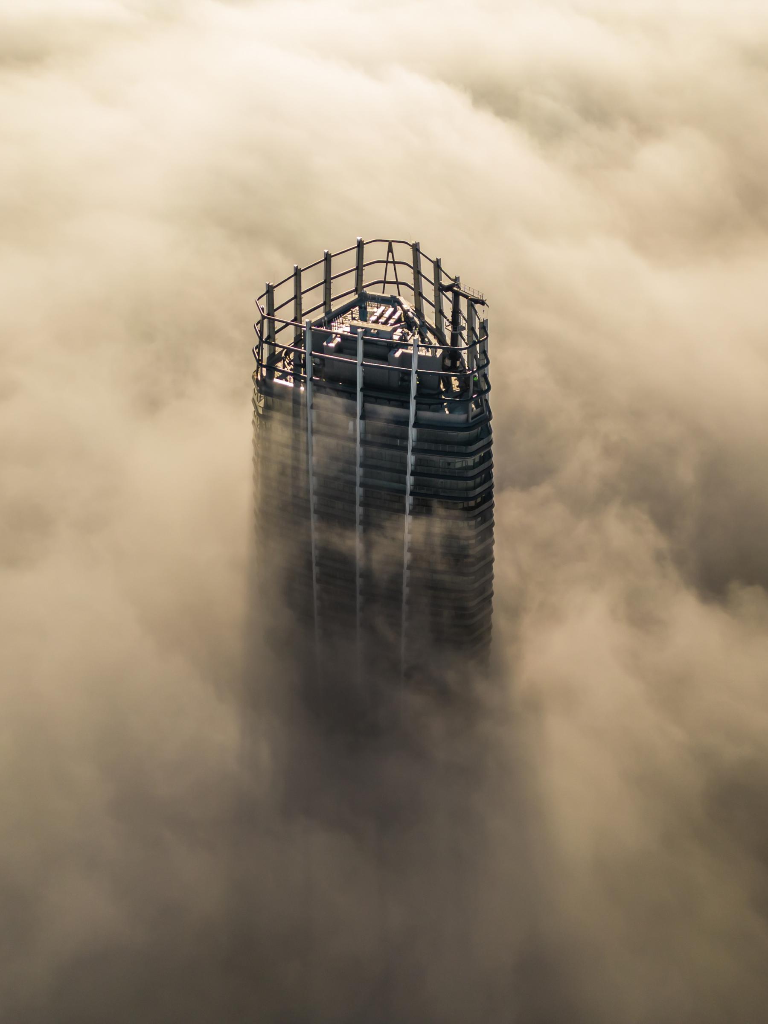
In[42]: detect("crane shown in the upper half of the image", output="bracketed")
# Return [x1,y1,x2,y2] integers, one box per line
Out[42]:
[439,275,491,369]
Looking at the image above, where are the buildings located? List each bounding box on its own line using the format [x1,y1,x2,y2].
[253,235,492,1024]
